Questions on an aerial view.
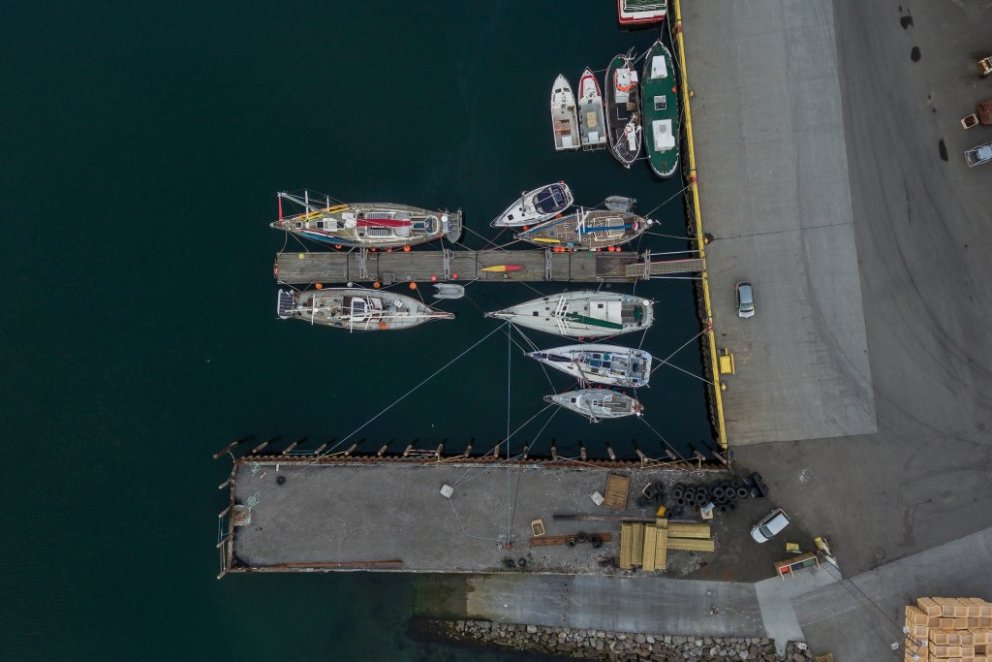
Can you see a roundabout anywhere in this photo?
No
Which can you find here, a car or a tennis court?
car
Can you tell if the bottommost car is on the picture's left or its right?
right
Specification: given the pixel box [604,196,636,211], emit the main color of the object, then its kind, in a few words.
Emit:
gray boat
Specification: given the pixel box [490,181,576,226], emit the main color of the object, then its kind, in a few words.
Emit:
white boat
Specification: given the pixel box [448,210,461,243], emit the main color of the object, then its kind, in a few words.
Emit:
gray boat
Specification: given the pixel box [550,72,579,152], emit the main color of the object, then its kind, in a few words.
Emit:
white boat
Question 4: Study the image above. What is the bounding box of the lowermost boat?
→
[548,389,644,424]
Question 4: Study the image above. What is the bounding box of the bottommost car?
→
[747,506,792,543]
